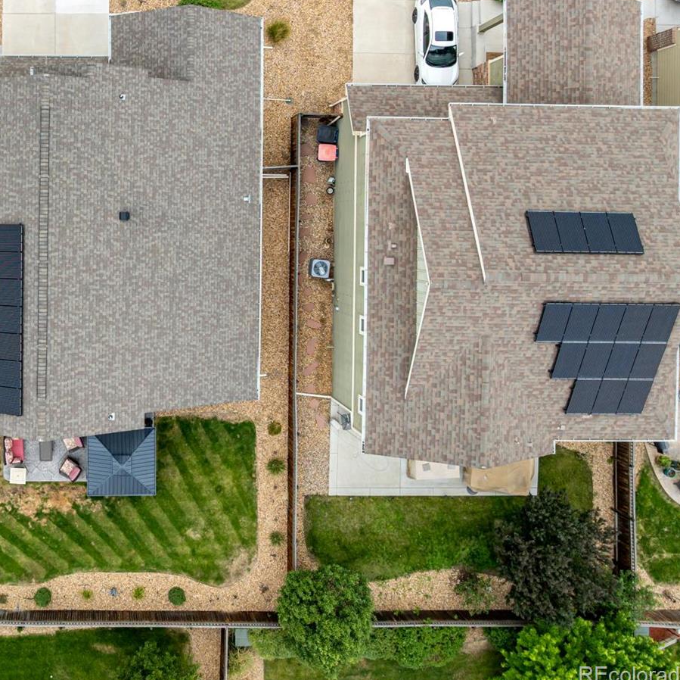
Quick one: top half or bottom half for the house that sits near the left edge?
top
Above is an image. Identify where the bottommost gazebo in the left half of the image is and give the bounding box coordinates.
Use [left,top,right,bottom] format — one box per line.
[86,425,156,497]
